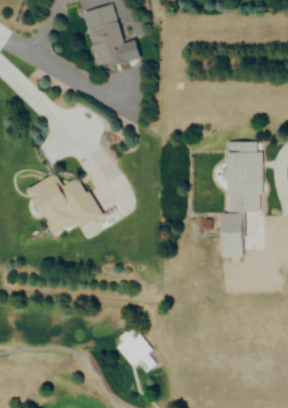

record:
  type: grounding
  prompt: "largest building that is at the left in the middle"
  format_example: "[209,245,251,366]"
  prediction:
[28,174,104,235]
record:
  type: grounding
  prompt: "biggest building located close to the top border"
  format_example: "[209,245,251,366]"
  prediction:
[86,2,142,66]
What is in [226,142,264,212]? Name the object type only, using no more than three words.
house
